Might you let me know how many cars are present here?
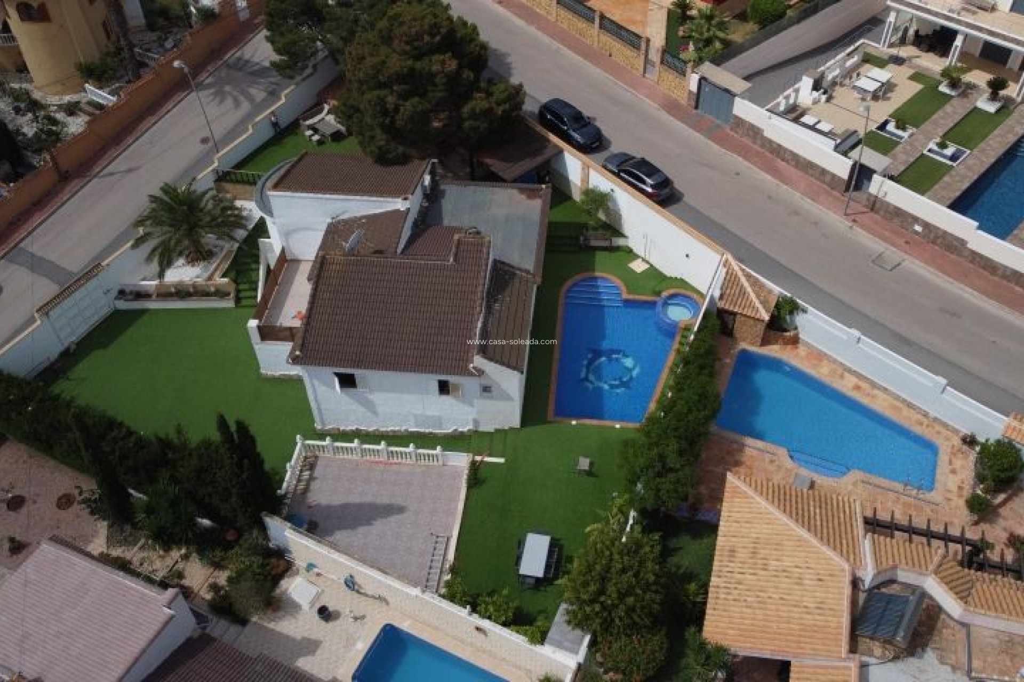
two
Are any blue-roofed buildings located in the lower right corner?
No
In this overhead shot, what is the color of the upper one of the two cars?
black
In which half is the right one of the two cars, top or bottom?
top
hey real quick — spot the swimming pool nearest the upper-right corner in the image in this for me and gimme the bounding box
[955,149,1024,241]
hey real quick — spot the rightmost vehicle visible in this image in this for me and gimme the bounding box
[608,155,680,203]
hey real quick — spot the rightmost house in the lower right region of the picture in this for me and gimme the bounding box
[703,471,1024,682]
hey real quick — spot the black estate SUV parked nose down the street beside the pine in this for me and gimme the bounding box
[538,102,605,154]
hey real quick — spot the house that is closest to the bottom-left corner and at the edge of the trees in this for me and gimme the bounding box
[0,534,188,682]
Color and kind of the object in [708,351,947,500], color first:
blue swimming pool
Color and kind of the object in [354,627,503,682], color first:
blue swimming pool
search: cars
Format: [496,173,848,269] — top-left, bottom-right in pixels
[608,155,680,203]
[538,102,605,154]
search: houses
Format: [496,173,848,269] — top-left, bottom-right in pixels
[243,154,550,426]
[878,0,1024,98]
[703,471,1024,682]
[0,534,188,682]
[0,0,148,84]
